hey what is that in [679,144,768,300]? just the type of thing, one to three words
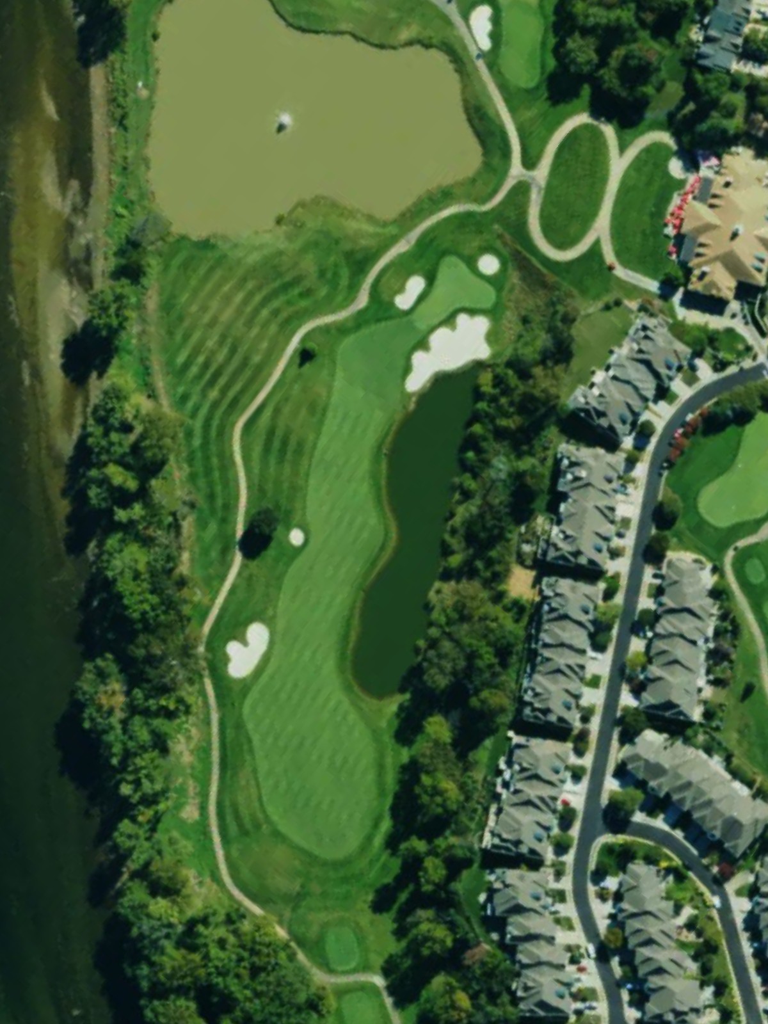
building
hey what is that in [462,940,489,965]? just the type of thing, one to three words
shed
